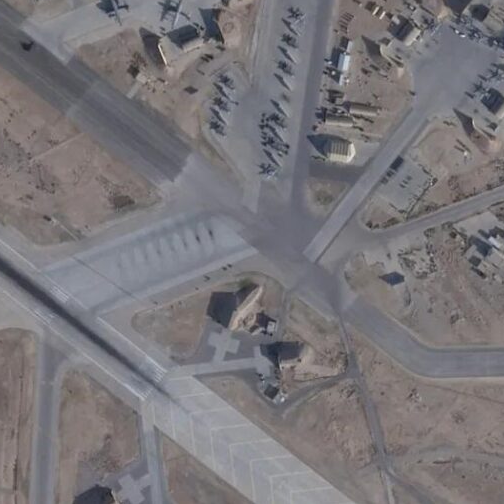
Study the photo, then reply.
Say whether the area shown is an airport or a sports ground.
airport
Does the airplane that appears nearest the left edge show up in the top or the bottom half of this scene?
top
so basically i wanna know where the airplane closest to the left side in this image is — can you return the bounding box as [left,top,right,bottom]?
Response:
[106,0,130,26]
